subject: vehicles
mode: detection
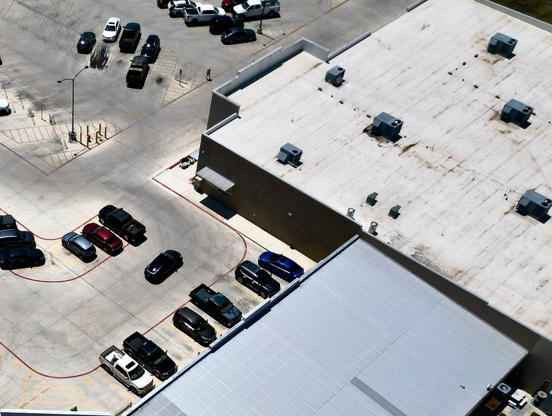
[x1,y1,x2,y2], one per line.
[103,19,121,43]
[220,29,256,47]
[171,307,217,347]
[233,260,281,296]
[0,102,10,118]
[97,346,155,395]
[77,35,96,55]
[189,283,244,328]
[182,2,227,24]
[0,249,45,271]
[141,35,160,61]
[97,205,149,242]
[208,15,244,35]
[0,215,19,230]
[156,0,171,10]
[125,56,149,87]
[0,229,36,253]
[168,0,200,17]
[220,0,251,12]
[120,331,179,378]
[143,253,185,285]
[60,236,99,263]
[119,23,141,52]
[81,226,125,255]
[257,254,305,283]
[231,0,283,21]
